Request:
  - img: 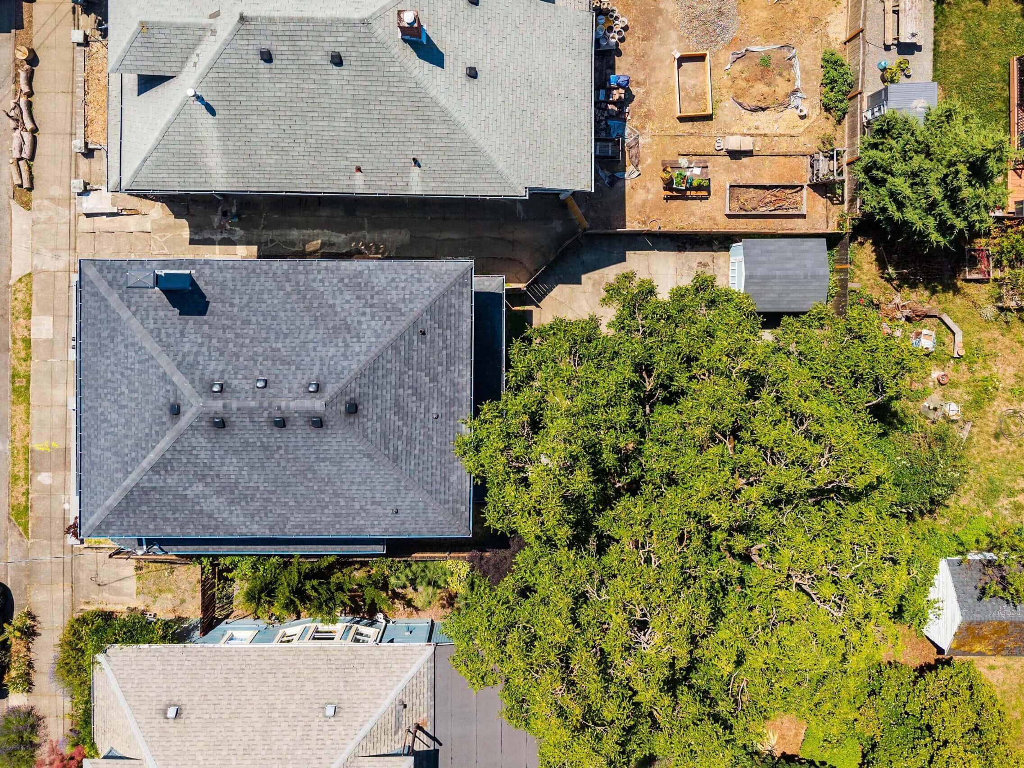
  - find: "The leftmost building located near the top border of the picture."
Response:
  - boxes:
[105,0,596,202]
